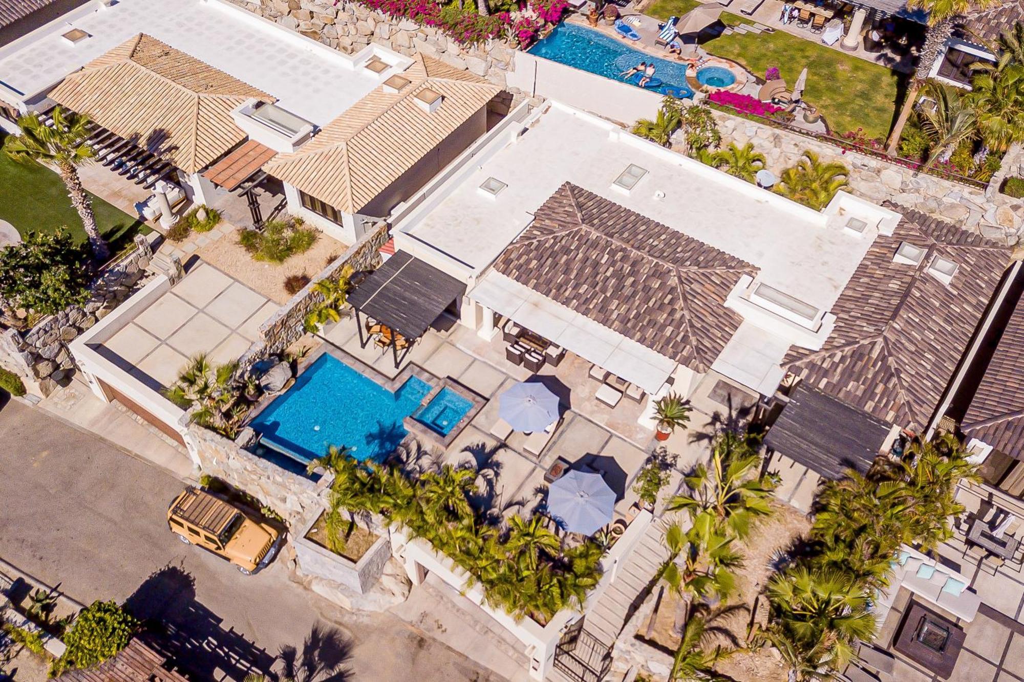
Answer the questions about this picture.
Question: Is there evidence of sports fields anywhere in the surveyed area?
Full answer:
No, the photo shows no sports field.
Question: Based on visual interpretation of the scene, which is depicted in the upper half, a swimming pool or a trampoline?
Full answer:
The feature located in the upper half is a swimming pool.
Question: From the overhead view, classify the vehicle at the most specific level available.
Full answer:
Looking closely, the vehicle is an automobile.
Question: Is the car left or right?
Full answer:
It is on the left.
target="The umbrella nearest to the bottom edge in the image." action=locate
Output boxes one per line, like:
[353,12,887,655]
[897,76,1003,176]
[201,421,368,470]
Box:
[549,479,615,541]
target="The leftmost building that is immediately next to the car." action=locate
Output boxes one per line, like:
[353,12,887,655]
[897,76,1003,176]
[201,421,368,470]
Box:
[65,274,214,449]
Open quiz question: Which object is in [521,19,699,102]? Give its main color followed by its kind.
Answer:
blue swimming pool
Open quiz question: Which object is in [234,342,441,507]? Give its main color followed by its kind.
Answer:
blue swimming pool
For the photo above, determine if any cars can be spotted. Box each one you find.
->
[169,488,281,578]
